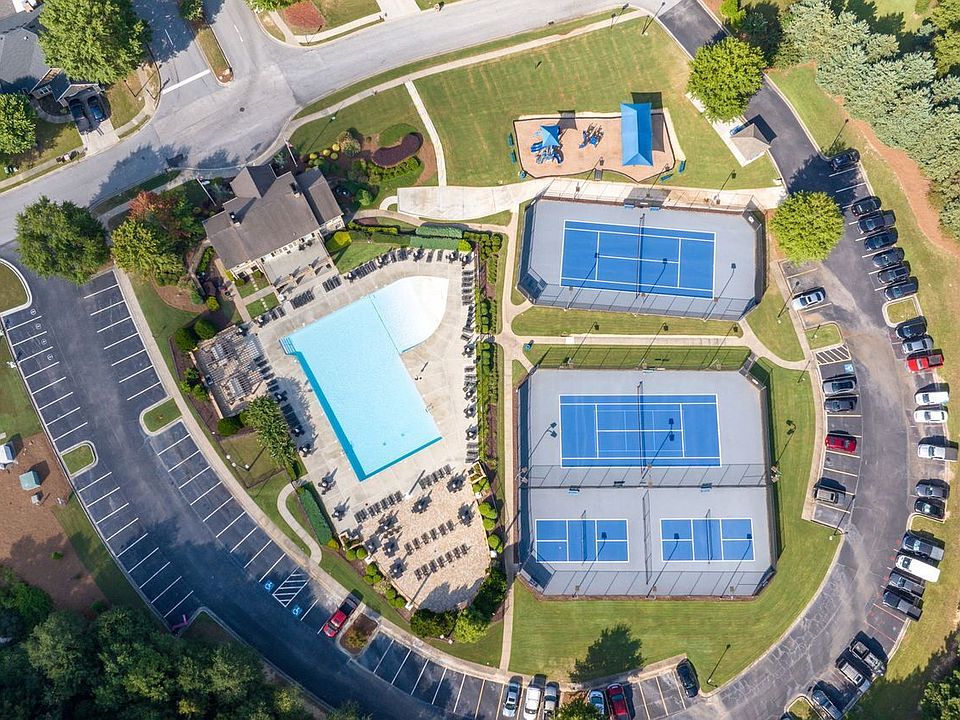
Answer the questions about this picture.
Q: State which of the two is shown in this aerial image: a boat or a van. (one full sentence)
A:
Looking from above, you can make out a van.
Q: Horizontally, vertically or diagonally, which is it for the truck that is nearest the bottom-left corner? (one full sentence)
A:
The truck that is nearest the bottom-left corner is laid out diagonally.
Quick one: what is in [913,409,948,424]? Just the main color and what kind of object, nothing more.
white car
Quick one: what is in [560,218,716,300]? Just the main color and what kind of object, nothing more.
blue tennis court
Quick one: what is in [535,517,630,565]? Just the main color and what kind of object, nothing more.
blue sports court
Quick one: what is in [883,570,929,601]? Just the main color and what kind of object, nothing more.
gray truck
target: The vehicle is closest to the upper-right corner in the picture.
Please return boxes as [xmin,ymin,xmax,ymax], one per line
[829,151,860,170]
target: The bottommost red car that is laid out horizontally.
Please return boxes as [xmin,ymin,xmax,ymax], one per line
[823,436,857,451]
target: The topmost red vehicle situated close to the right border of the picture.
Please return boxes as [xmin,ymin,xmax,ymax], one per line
[904,353,947,369]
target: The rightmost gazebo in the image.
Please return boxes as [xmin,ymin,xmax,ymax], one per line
[728,124,771,169]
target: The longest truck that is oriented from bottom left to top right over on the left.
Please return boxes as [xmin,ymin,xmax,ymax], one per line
[322,597,358,640]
